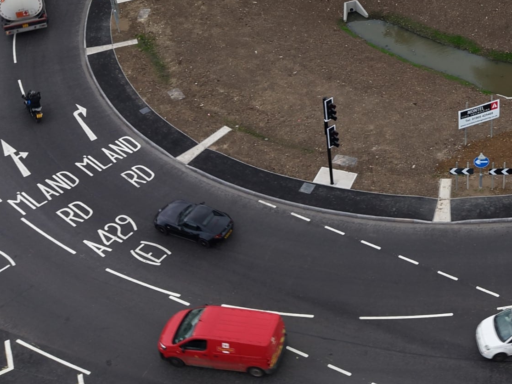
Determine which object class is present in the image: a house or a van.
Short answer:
van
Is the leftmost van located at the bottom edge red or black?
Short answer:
red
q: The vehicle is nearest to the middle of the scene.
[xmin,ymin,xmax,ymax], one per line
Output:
[150,198,237,247]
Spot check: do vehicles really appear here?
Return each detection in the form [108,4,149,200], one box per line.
[0,0,47,33]
[150,198,237,247]
[18,89,40,120]
[478,305,512,362]
[159,305,292,378]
